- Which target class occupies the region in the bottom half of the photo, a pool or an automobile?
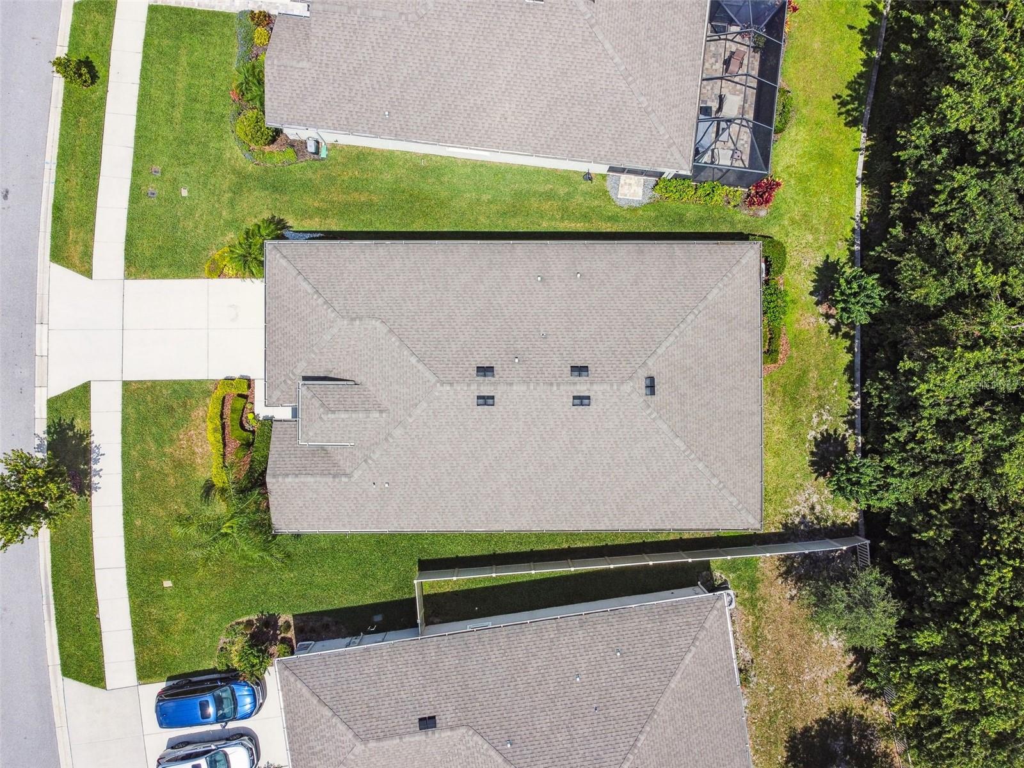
automobile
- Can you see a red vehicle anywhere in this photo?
No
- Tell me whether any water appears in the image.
No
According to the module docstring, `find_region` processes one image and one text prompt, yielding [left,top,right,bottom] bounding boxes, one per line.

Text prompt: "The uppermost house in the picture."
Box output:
[263,0,715,181]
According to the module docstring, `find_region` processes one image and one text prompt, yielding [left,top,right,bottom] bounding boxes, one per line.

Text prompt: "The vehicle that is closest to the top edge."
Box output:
[159,672,261,730]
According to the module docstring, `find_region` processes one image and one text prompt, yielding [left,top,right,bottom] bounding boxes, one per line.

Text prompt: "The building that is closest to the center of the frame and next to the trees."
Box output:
[262,238,764,534]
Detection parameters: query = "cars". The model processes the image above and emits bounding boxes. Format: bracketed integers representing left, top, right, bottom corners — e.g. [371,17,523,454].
[155,737,257,768]
[159,672,261,730]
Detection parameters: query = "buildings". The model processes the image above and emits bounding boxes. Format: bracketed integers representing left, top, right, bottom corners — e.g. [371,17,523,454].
[262,238,764,534]
[272,578,755,768]
[263,0,715,181]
